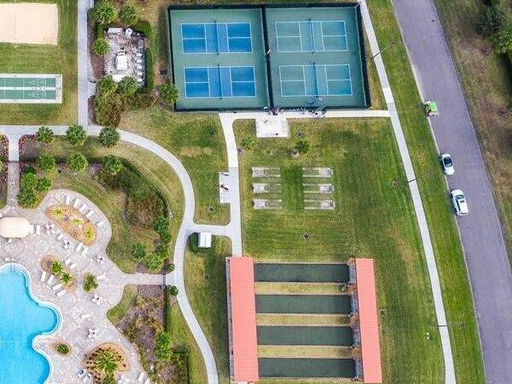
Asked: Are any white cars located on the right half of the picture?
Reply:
Yes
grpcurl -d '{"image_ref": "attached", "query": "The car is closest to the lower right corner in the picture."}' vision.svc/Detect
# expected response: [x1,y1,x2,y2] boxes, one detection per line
[451,190,470,216]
